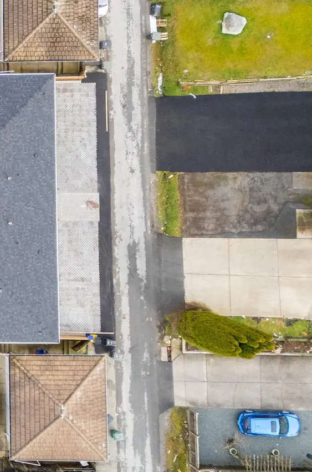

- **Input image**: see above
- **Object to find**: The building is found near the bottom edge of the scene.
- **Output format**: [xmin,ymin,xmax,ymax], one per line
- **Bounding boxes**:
[1,352,109,463]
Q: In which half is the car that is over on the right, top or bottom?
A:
bottom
